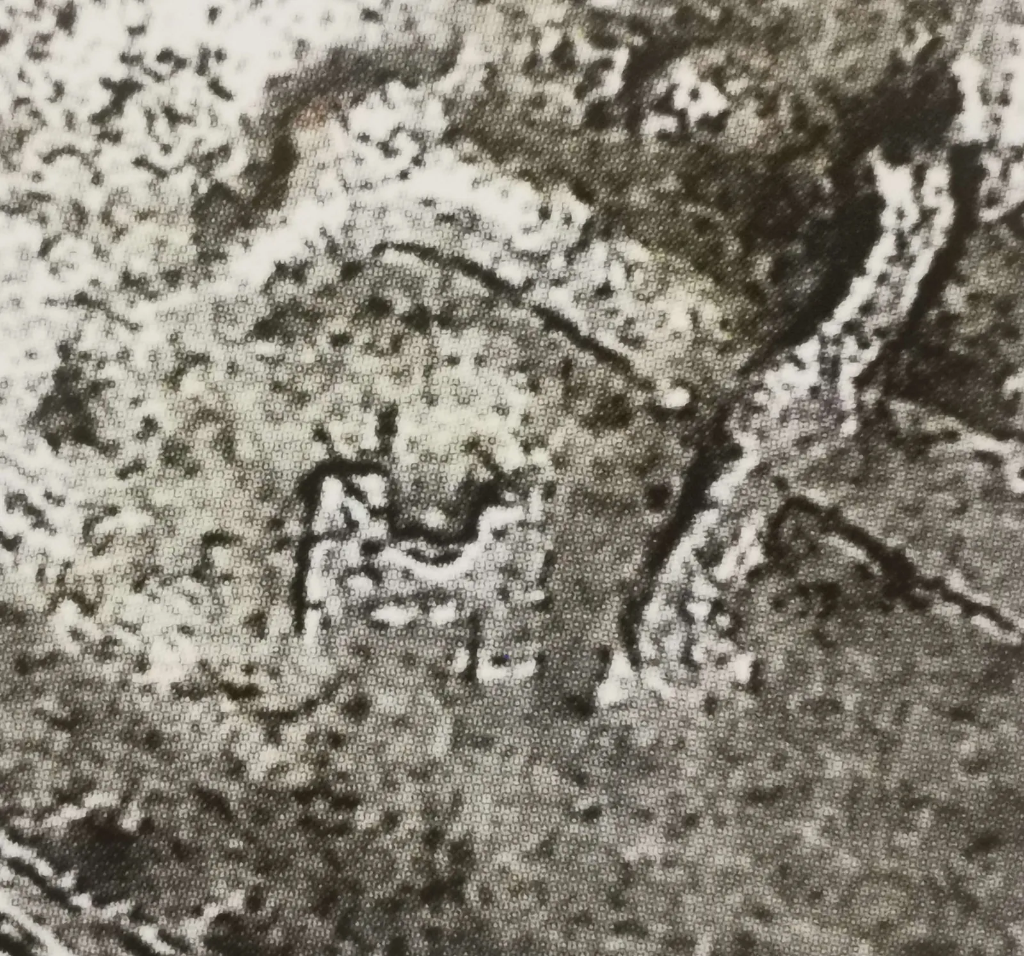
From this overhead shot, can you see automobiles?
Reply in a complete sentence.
No, the frame has no automobile in it.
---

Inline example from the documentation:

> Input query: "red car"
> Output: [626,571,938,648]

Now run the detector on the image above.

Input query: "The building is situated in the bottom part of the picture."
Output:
[301,468,544,685]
